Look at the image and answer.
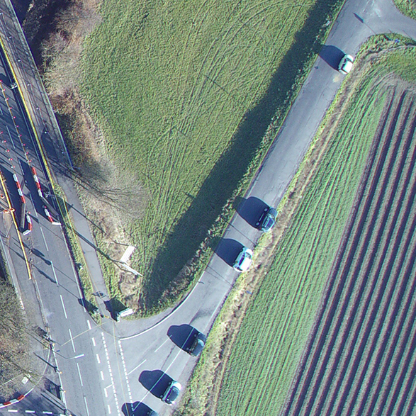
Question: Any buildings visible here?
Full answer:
No, no building can be seen from above.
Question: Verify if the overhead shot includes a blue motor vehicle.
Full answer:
Yes, a blue motor vehicle appears in the view.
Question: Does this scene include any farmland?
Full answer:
Yes, there's farmland in this view.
